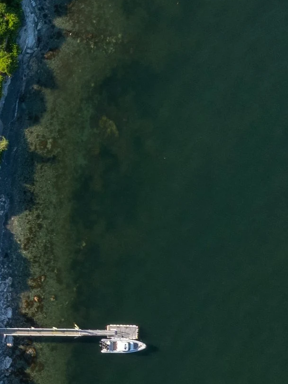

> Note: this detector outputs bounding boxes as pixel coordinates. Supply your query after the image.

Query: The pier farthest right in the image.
[106,324,139,339]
